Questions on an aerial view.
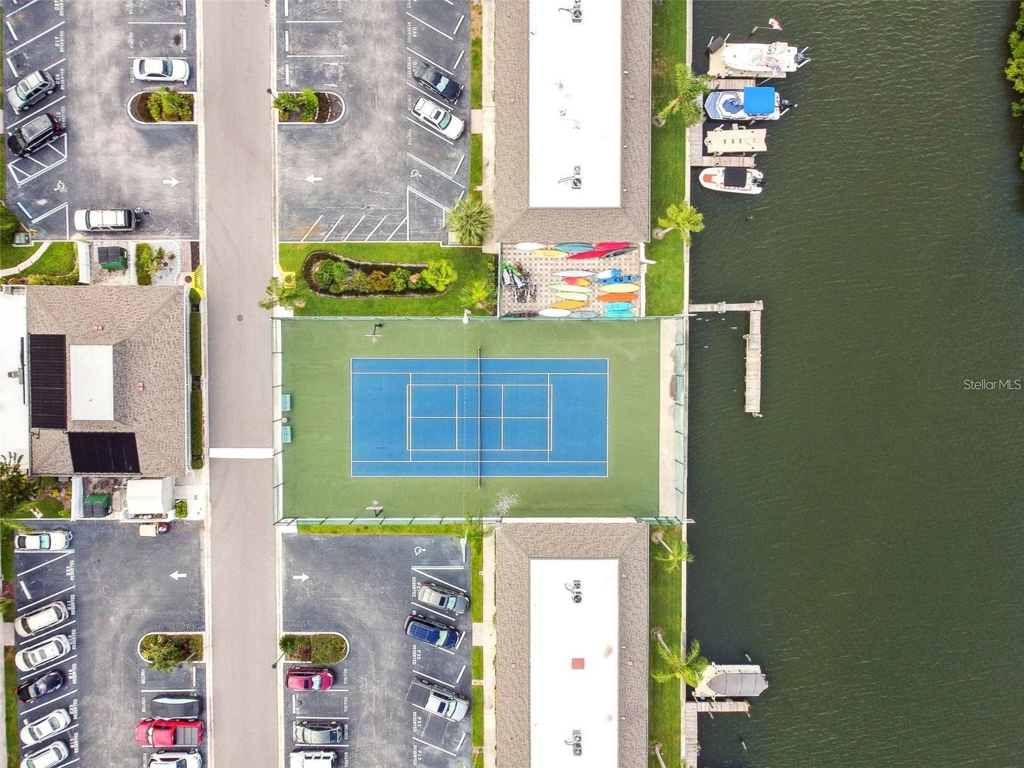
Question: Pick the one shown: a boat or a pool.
boat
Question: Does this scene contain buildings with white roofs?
Yes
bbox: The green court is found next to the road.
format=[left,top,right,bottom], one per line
[282,321,677,517]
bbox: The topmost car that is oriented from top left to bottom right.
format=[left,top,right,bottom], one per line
[412,62,464,105]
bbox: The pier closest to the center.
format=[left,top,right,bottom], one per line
[689,300,763,418]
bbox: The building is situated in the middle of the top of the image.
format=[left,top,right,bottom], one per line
[494,0,653,243]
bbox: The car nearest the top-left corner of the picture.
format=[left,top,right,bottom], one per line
[6,70,59,111]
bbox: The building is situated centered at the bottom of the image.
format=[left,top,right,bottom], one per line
[495,522,650,768]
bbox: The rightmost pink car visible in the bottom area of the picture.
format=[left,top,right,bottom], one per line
[286,666,335,694]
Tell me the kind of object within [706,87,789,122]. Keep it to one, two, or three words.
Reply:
boat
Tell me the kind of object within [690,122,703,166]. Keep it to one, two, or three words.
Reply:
pier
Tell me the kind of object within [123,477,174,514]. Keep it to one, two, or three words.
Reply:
shed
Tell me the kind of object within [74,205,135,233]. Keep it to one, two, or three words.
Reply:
car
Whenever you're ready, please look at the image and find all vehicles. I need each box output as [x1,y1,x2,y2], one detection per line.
[16,633,73,672]
[133,56,191,83]
[15,598,71,637]
[296,720,344,748]
[21,706,75,745]
[8,114,66,157]
[136,522,172,539]
[74,205,135,233]
[6,70,59,111]
[290,748,338,768]
[149,750,204,768]
[417,583,470,616]
[15,529,73,554]
[18,737,74,768]
[14,667,69,706]
[405,679,470,720]
[286,666,335,694]
[404,615,460,650]
[412,62,464,105]
[411,96,465,140]
[136,718,204,749]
